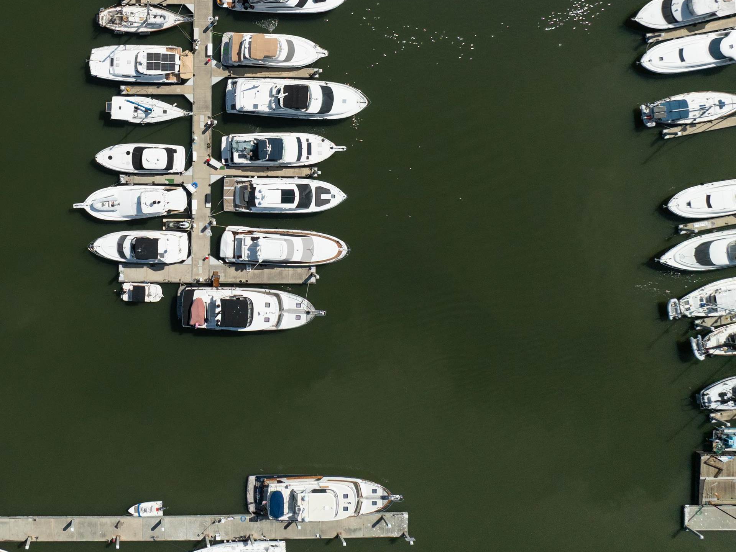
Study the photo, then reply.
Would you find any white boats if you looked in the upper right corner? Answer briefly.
Yes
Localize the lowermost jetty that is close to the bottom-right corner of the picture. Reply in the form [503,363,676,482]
[678,503,736,532]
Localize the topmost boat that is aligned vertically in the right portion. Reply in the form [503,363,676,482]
[641,102,654,126]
